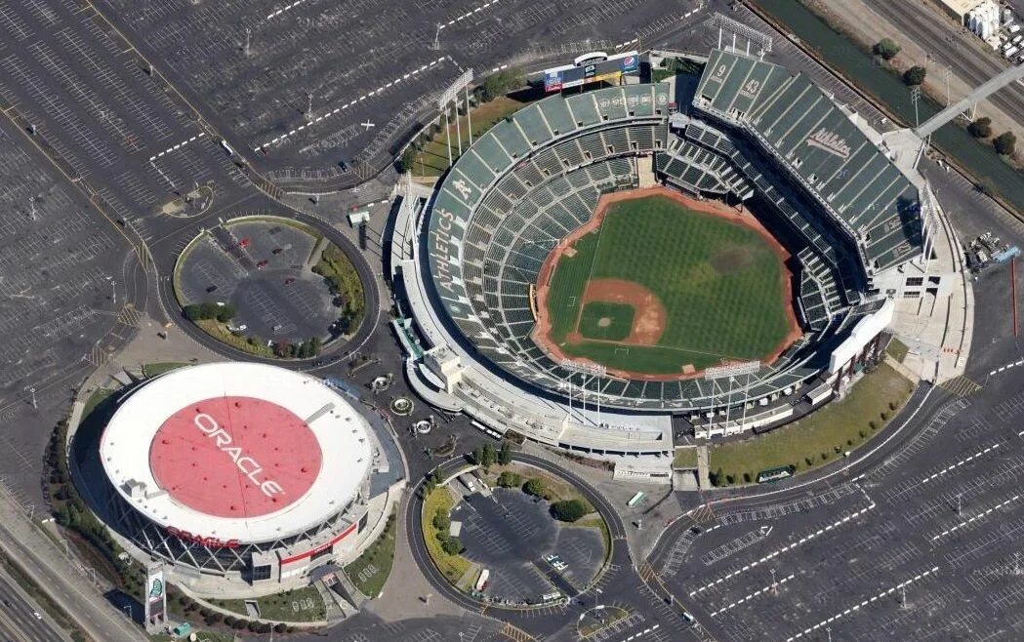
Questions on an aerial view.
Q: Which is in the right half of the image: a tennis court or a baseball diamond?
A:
baseball diamond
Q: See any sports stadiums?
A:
Yes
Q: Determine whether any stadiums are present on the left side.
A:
Yes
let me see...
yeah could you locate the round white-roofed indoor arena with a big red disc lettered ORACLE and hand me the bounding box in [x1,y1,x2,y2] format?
[89,361,407,622]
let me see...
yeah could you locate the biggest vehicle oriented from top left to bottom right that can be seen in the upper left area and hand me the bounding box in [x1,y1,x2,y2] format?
[220,138,234,153]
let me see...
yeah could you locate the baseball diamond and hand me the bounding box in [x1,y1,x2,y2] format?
[531,180,807,384]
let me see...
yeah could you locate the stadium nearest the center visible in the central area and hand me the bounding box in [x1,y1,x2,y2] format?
[379,80,860,487]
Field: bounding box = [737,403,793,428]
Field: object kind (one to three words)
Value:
shed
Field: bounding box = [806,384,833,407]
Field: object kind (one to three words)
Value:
shed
